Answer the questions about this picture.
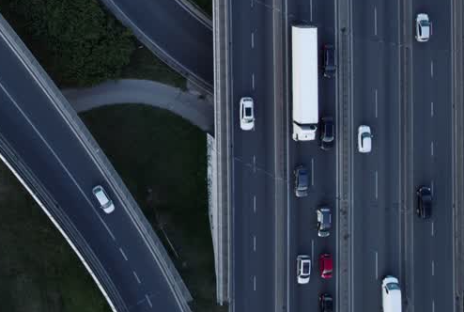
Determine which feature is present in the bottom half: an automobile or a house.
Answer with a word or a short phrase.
automobile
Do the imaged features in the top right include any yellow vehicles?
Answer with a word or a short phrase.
No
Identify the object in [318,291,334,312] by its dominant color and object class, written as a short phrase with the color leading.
black car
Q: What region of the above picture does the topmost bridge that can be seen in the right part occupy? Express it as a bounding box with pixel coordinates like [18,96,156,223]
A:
[203,0,457,229]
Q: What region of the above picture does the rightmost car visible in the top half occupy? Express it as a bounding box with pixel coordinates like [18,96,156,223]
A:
[415,13,431,41]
